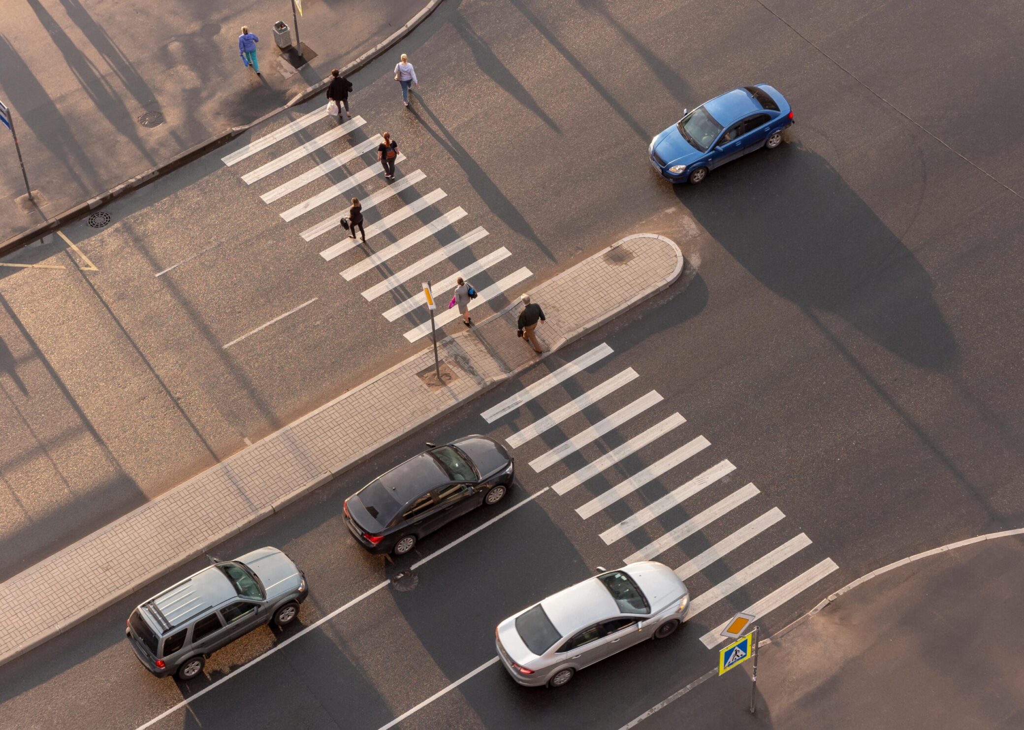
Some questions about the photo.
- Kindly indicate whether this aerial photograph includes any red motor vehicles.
No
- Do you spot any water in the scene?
No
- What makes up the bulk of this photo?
paved ground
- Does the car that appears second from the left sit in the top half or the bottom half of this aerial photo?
bottom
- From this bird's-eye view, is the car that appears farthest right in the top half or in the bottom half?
top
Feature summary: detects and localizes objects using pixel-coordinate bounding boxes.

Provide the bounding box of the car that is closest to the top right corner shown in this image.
[647,83,798,185]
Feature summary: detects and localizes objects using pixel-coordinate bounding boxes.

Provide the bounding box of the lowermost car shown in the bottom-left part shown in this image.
[124,549,309,683]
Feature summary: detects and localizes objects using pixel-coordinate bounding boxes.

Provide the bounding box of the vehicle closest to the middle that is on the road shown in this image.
[339,435,517,560]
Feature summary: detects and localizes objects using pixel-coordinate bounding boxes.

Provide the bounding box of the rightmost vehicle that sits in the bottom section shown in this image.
[493,559,695,692]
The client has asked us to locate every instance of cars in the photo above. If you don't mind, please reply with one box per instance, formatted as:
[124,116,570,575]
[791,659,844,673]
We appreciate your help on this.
[493,559,695,692]
[339,435,517,560]
[647,83,798,185]
[124,549,309,683]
